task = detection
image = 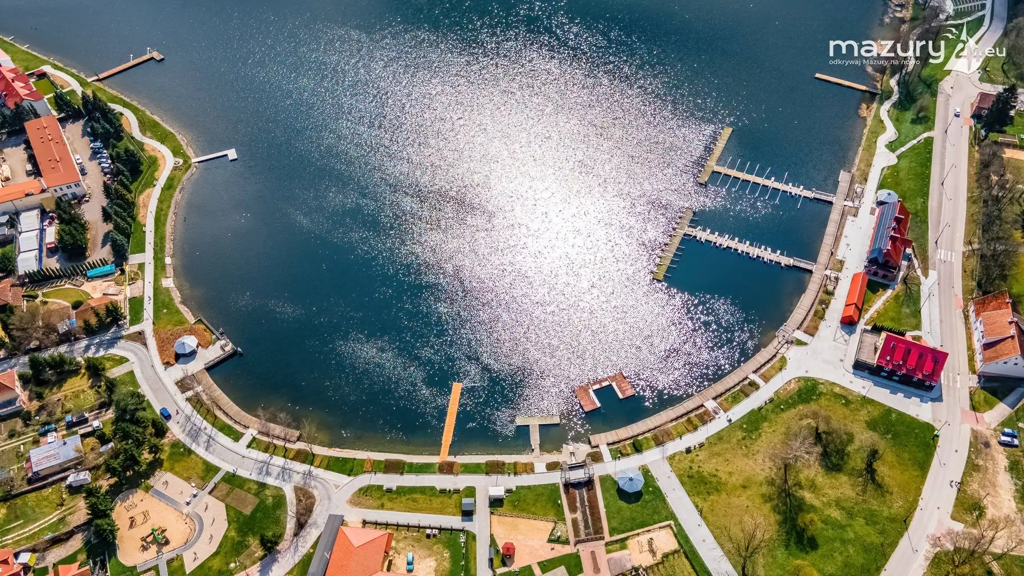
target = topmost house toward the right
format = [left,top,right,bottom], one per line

[968,91,997,128]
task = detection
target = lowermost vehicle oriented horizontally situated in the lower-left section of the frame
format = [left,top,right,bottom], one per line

[62,469,92,485]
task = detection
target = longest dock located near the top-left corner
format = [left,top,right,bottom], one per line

[88,45,164,82]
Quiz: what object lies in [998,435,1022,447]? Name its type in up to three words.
vehicle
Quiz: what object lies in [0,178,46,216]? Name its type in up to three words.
building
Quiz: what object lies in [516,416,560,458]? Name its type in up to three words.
pier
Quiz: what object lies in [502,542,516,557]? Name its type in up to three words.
gazebo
